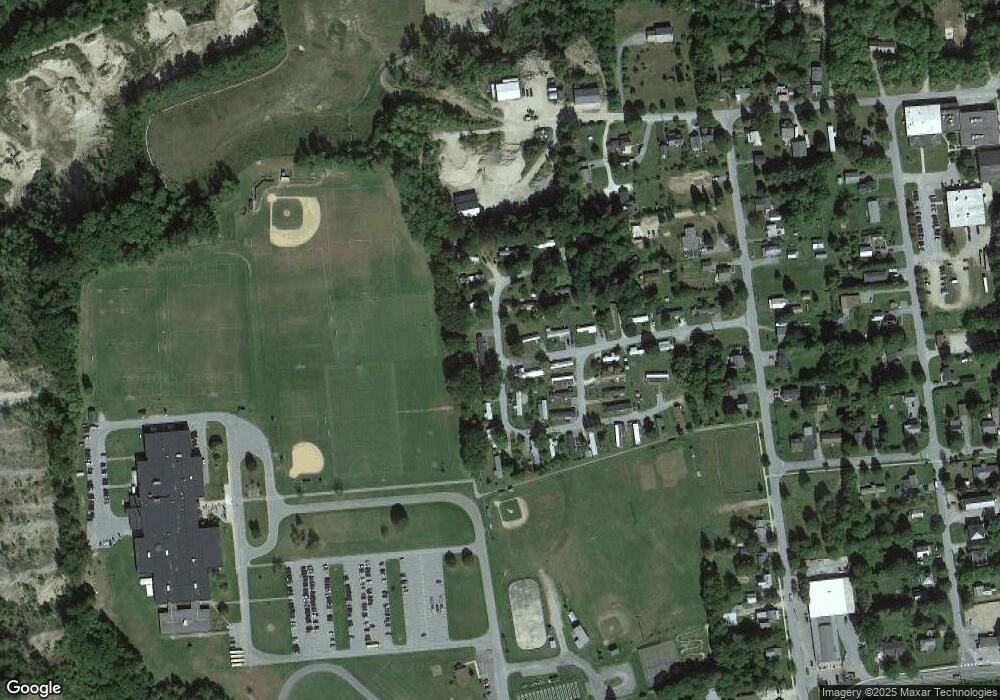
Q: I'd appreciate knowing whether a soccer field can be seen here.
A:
Yes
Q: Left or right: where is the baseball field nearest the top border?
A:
left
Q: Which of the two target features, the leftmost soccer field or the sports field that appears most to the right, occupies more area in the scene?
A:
the soccer field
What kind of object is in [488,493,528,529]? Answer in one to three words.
baseball field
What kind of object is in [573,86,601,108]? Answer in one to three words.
barn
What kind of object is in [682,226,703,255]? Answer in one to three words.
house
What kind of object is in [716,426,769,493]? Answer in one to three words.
sports field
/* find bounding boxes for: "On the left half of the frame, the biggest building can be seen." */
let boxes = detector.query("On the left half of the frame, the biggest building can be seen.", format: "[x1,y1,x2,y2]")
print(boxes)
[127,430,222,636]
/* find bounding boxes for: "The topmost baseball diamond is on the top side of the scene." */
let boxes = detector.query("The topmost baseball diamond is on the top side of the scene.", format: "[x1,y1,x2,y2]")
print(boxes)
[264,189,320,247]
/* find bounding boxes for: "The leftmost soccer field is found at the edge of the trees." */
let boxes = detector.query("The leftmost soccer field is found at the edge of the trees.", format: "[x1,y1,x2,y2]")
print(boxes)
[95,288,164,397]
